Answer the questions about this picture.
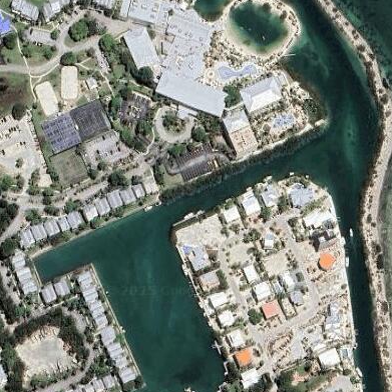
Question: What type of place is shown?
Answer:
residential area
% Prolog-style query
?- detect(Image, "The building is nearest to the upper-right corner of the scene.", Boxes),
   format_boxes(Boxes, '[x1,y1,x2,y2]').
[239,75,283,109]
